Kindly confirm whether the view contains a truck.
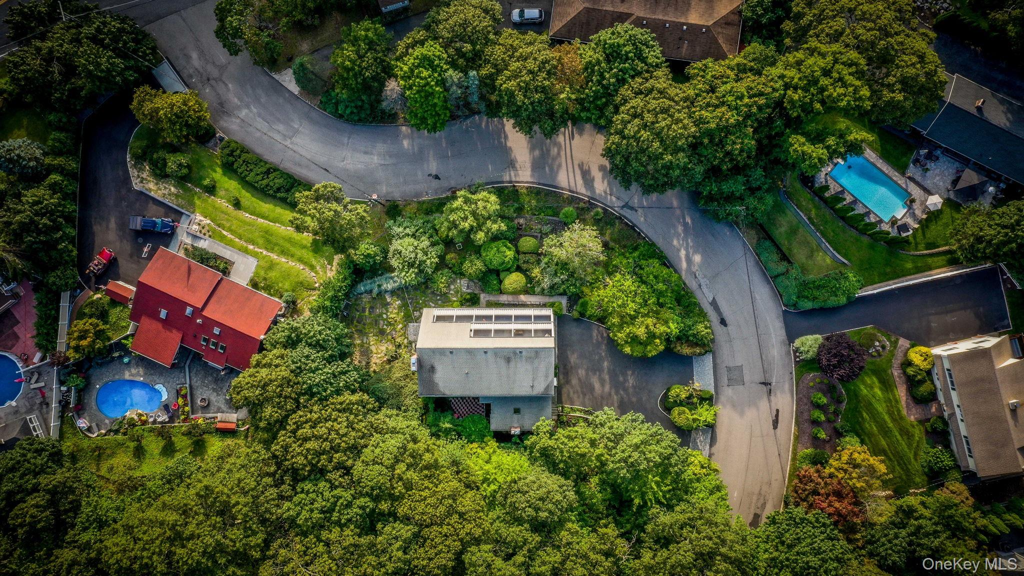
Yes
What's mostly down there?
trees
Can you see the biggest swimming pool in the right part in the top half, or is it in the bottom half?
top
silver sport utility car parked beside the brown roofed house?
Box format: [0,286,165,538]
[511,5,546,23]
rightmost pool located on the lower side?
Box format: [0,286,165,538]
[95,377,168,420]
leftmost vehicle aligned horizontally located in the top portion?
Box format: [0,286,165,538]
[124,214,176,235]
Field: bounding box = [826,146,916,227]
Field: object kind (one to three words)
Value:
swimming pool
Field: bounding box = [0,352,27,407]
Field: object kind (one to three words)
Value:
swimming pool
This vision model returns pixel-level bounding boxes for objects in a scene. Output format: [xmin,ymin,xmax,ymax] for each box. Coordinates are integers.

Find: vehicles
[511,5,546,23]
[80,243,117,282]
[124,214,176,235]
